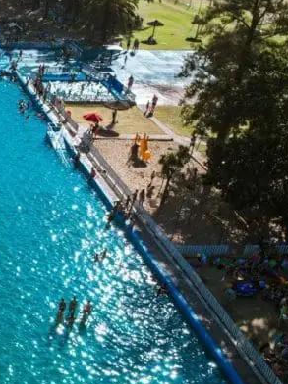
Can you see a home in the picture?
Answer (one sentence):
No, the picture doesn't show any home.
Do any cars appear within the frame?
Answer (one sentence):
No, no car is visible in the view.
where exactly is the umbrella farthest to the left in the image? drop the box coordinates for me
[83,108,115,134]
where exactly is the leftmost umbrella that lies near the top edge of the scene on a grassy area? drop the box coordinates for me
[142,16,170,40]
